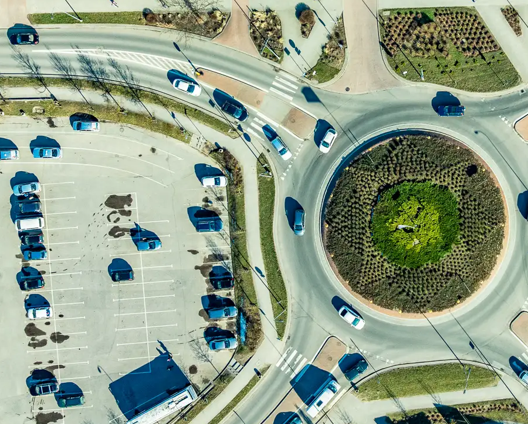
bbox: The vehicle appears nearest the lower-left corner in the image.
[30,381,61,396]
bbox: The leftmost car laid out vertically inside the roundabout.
[294,209,306,236]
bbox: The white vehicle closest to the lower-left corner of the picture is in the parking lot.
[28,305,55,319]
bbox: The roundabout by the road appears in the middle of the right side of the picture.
[277,87,528,362]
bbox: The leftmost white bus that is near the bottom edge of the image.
[129,383,207,424]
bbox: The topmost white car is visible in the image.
[172,77,204,97]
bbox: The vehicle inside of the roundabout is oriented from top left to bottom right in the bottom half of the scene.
[338,305,366,330]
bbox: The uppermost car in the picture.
[10,32,41,45]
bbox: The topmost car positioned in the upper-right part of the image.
[437,106,468,118]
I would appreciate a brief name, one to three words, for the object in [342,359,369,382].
car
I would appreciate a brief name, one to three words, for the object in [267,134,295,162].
car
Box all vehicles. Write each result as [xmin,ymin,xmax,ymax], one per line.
[342,359,369,382]
[201,175,229,188]
[58,392,86,407]
[13,181,44,196]
[195,219,224,232]
[294,209,306,236]
[208,305,239,319]
[20,232,47,247]
[220,99,251,123]
[338,305,366,330]
[437,106,468,118]
[28,305,55,319]
[111,269,135,282]
[129,383,207,424]
[0,149,22,161]
[30,381,61,396]
[208,336,239,350]
[16,200,47,215]
[33,145,63,159]
[305,380,340,418]
[136,235,162,254]
[73,119,102,132]
[10,32,41,45]
[172,77,204,97]
[15,217,46,231]
[320,127,338,154]
[267,134,295,162]
[211,275,238,287]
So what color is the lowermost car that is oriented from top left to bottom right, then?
white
